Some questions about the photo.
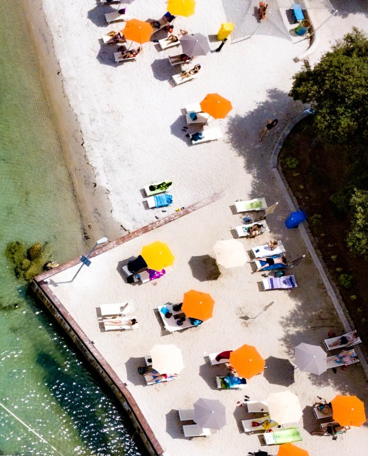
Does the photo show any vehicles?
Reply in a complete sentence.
No, the photo shows no vehicle.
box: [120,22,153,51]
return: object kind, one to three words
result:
umbrella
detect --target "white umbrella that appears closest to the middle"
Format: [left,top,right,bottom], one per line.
[211,240,246,273]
